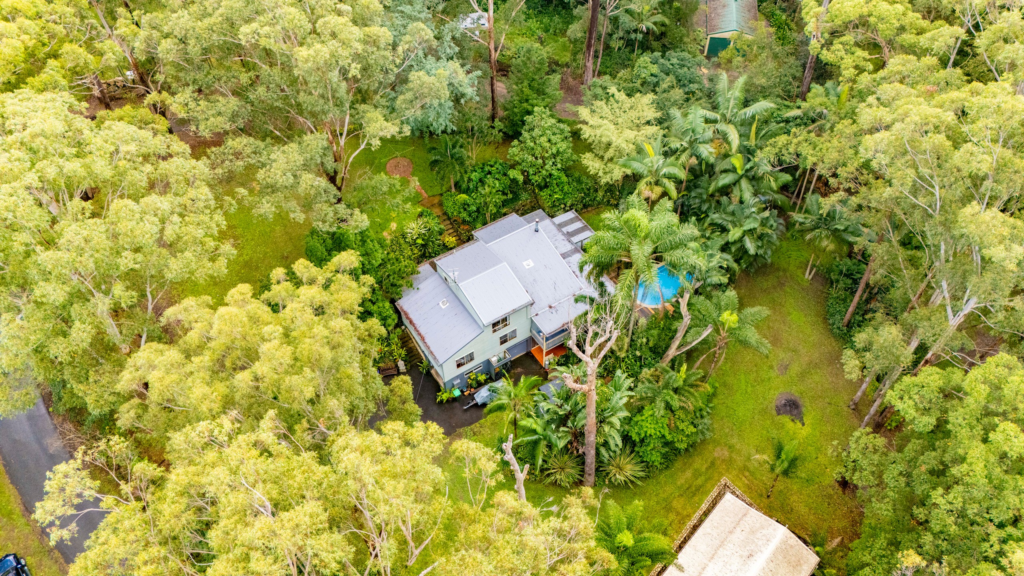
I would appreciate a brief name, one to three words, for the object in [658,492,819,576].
shed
